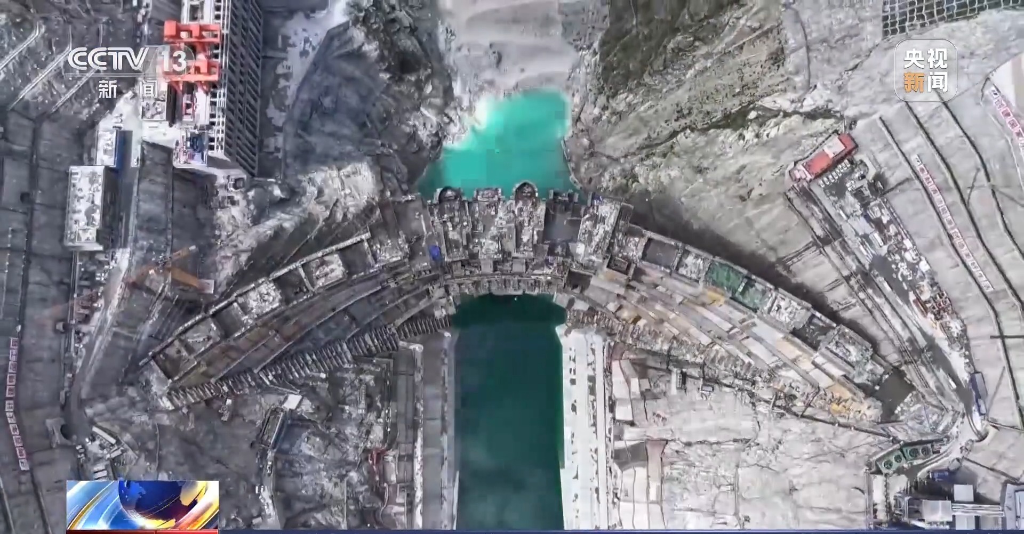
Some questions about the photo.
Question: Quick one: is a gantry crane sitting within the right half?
No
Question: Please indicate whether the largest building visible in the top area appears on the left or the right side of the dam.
to the left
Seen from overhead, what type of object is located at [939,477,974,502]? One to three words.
building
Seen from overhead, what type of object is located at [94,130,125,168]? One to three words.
building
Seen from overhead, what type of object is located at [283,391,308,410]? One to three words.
shed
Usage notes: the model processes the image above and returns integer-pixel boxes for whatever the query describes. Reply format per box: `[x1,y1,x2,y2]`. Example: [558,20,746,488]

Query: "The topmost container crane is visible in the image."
[161,18,225,56]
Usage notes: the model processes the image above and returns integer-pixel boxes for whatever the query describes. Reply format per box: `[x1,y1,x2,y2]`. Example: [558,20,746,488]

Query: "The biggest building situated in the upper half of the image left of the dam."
[63,165,117,250]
